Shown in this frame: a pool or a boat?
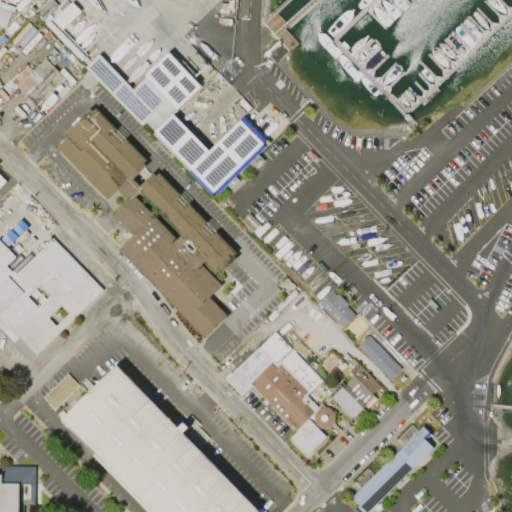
boat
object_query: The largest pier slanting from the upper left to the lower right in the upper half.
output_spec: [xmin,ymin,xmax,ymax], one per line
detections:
[332,36,412,118]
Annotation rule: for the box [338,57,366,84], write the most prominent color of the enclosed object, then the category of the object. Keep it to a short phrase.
white boat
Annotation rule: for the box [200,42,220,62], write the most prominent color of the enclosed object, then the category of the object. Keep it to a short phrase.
white boat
